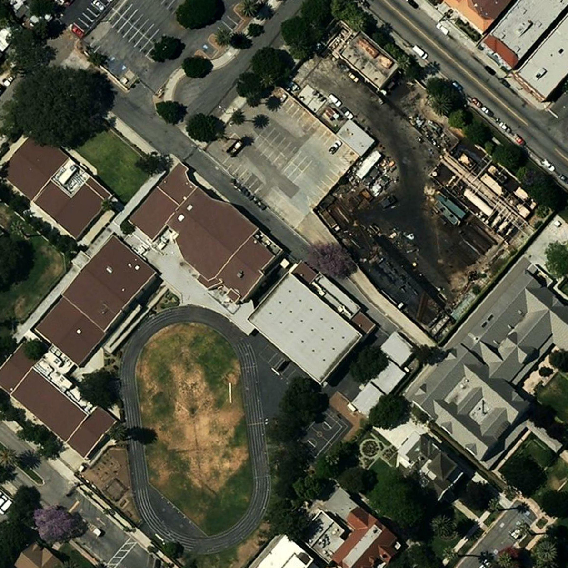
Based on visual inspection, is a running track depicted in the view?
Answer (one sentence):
Yes, a running track appears in the view.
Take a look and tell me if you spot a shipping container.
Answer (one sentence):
Yes, the picture does show a shipping container.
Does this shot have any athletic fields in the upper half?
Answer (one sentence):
No, I see no athletic field in the upper half.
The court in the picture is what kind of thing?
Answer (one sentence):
What you see as the court is a basketball court.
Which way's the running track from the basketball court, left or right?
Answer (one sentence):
It is on the left side of the basketball court that the running track is positioned.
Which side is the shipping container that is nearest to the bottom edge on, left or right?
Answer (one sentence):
It is on the right.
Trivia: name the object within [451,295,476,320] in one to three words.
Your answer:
shipping container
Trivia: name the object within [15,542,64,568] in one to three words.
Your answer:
house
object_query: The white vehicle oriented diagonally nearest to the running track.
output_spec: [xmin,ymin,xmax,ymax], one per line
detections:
[88,524,105,539]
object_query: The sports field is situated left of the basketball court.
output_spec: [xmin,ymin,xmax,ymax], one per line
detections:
[138,325,251,536]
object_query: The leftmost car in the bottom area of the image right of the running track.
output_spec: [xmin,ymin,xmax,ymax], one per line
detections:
[277,357,290,372]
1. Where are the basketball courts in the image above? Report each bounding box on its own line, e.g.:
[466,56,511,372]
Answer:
[297,408,353,458]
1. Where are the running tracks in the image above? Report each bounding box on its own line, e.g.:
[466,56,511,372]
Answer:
[121,307,269,553]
